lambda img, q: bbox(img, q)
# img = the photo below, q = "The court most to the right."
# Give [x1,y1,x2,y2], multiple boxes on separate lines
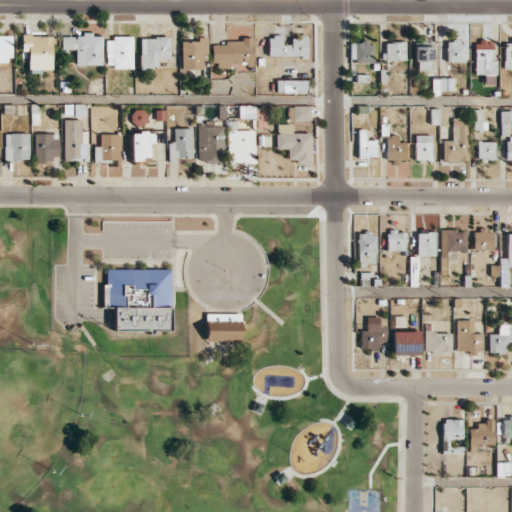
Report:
[348,490,380,512]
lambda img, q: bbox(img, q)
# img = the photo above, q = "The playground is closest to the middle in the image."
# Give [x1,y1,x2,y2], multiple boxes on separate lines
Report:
[250,364,308,400]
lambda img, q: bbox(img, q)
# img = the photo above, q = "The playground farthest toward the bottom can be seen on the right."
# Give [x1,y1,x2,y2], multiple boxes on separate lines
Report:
[290,422,341,477]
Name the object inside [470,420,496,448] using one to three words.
house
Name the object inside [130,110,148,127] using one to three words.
gazebo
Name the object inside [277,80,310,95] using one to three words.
shed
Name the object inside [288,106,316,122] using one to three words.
building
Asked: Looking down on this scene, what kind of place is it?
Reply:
residential area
